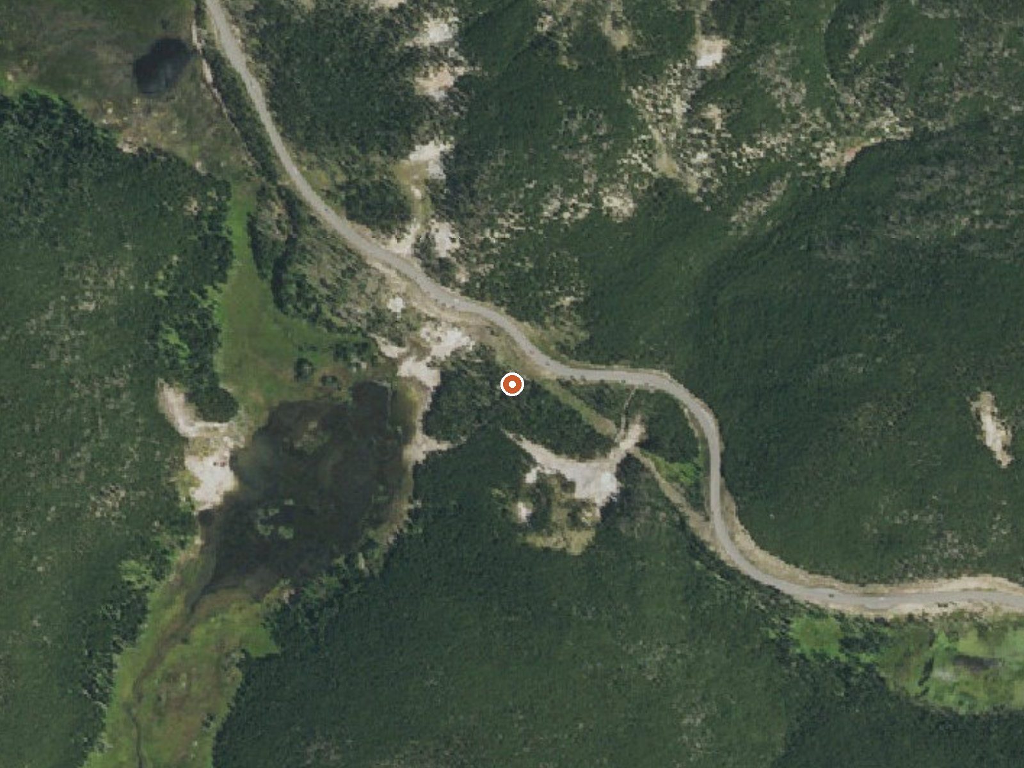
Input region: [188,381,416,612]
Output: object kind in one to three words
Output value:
pond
